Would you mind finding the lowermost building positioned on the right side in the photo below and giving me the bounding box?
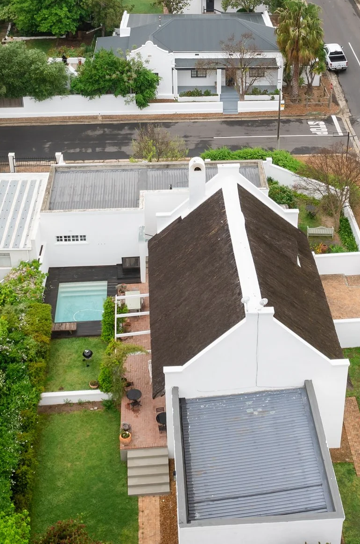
[121,151,354,544]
